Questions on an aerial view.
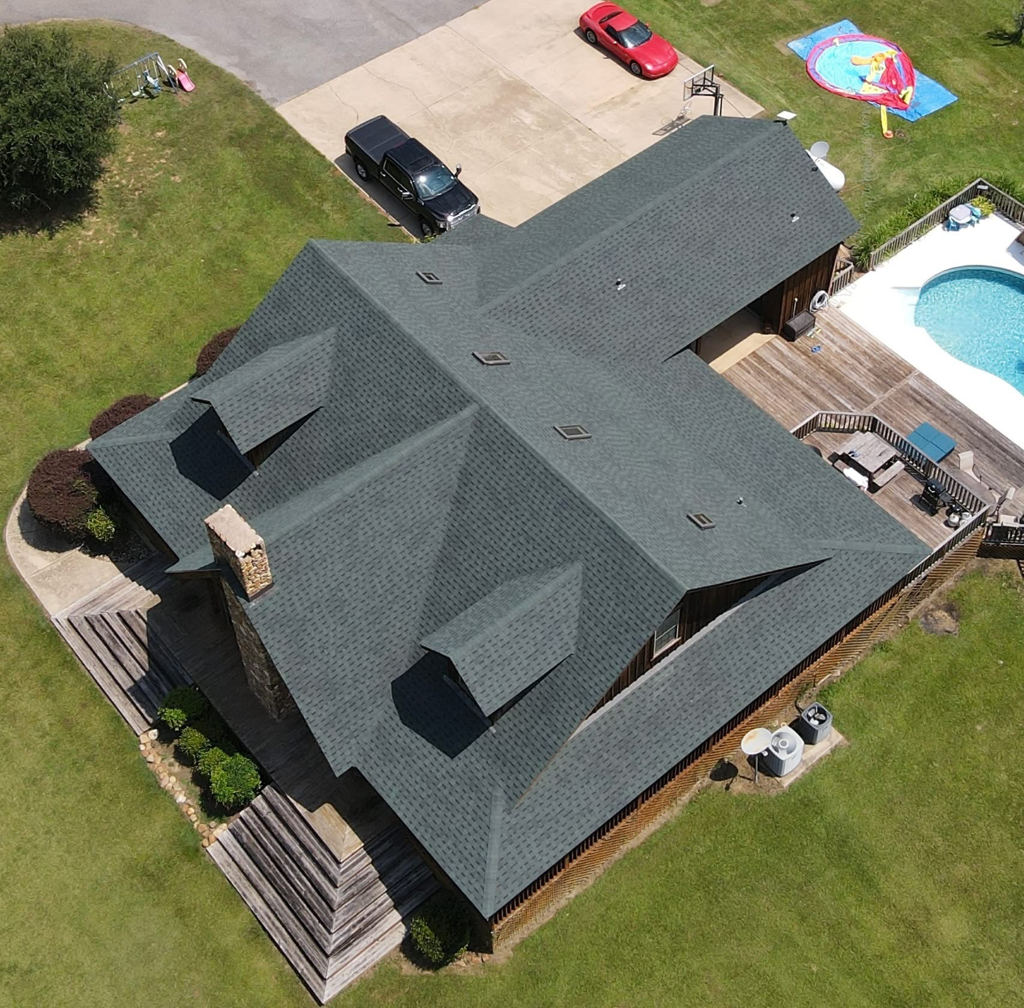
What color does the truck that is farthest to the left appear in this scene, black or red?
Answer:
black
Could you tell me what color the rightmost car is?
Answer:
red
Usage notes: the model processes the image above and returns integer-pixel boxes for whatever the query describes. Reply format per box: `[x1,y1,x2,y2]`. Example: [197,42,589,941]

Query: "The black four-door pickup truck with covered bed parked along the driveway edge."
[344,120,479,238]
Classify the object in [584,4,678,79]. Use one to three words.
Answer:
car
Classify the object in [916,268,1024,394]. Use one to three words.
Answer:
swimming pool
